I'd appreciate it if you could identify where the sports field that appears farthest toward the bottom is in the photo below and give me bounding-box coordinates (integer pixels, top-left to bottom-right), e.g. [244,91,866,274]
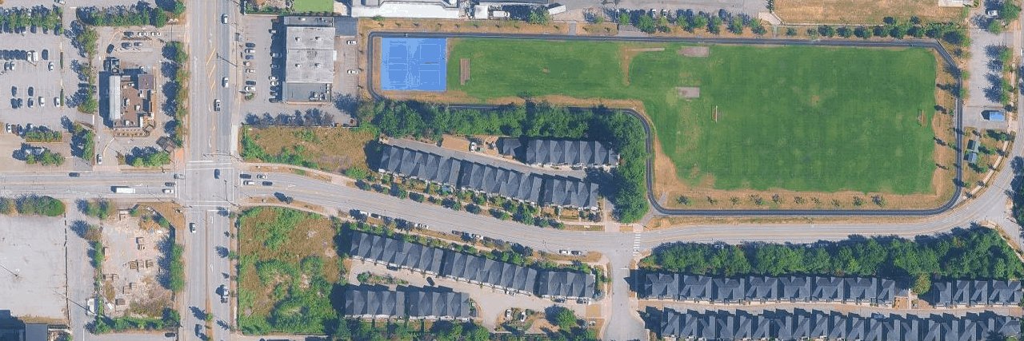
[373,37,958,210]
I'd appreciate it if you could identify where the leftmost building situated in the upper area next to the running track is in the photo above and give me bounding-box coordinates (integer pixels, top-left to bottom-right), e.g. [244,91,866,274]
[283,17,338,104]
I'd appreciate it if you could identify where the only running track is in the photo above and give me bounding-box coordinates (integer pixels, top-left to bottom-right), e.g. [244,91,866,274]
[366,31,964,216]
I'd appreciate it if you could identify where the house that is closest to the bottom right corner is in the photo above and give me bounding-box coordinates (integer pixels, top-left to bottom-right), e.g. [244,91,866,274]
[995,317,1022,338]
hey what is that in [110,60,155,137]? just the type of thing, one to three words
building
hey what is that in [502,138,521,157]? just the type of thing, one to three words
house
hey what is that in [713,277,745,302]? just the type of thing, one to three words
house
